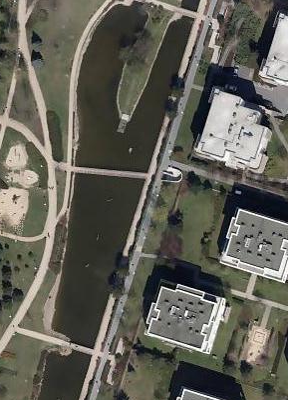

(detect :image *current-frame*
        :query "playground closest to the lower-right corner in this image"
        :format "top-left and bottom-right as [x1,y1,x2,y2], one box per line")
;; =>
[243,321,270,364]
